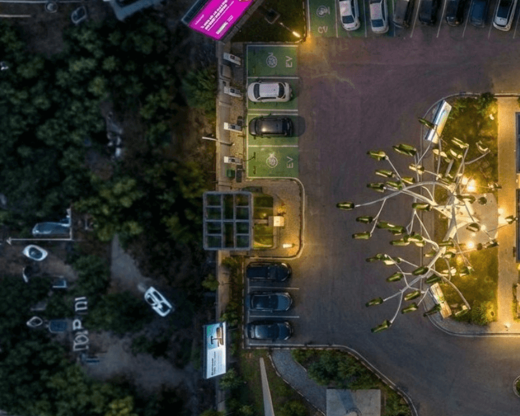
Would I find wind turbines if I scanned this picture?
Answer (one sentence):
Yes, a wind turbine is visible in the scene.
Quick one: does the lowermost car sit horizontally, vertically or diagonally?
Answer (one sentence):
In this picture, the lowermost car is oriented horizontally.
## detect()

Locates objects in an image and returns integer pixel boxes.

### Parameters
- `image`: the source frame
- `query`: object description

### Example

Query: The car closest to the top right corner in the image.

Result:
[492,0,518,32]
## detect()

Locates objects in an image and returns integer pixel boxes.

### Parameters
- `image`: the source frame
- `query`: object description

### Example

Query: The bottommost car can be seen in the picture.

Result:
[246,320,296,343]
